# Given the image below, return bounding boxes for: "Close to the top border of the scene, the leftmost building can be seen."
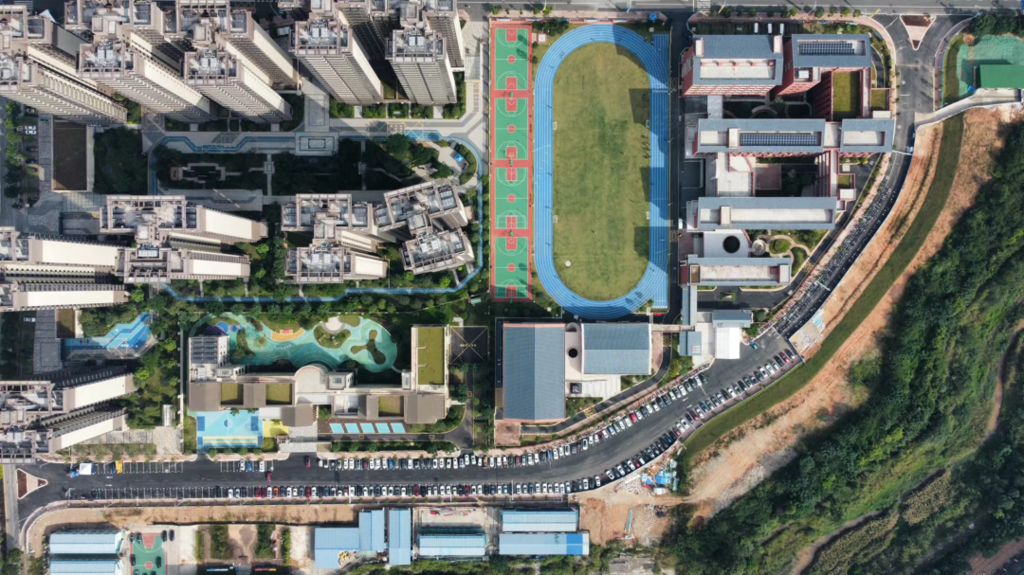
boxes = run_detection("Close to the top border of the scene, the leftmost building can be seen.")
[0,3,123,125]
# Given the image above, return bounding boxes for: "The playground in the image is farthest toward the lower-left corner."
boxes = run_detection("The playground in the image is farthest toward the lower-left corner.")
[63,312,153,359]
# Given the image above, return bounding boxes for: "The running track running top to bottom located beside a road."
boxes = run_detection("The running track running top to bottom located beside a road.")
[534,23,669,319]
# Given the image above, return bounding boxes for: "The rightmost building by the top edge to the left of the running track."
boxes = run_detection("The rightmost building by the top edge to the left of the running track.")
[371,0,467,103]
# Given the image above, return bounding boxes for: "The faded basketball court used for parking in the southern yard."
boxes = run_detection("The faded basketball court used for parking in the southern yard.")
[131,534,167,575]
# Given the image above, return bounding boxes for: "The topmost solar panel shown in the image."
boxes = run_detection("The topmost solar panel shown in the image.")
[800,42,853,54]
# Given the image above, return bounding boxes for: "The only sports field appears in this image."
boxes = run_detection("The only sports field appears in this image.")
[553,42,650,300]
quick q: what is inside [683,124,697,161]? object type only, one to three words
building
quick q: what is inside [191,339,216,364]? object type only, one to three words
solar panel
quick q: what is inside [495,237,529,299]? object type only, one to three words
basketball court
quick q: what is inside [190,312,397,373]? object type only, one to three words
playground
